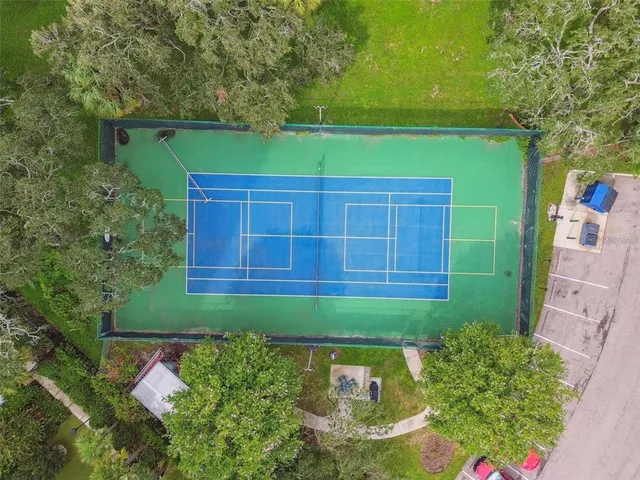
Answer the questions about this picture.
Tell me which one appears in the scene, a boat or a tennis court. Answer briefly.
tennis court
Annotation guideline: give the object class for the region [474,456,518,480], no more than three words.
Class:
car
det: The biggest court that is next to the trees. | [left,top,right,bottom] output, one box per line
[114,128,527,341]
